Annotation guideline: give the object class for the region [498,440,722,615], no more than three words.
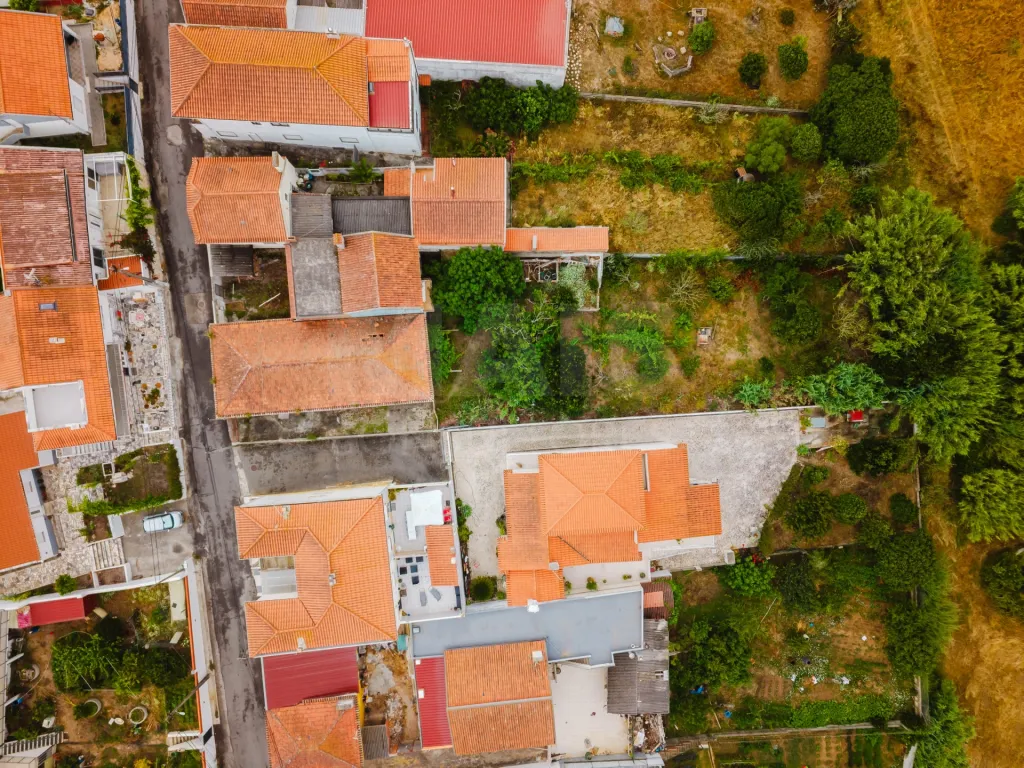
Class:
house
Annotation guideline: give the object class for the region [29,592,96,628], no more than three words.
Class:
shed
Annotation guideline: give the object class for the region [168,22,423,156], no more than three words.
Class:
house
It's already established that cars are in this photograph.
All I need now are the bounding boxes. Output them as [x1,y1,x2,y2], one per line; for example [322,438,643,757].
[142,510,187,532]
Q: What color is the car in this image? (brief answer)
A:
white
